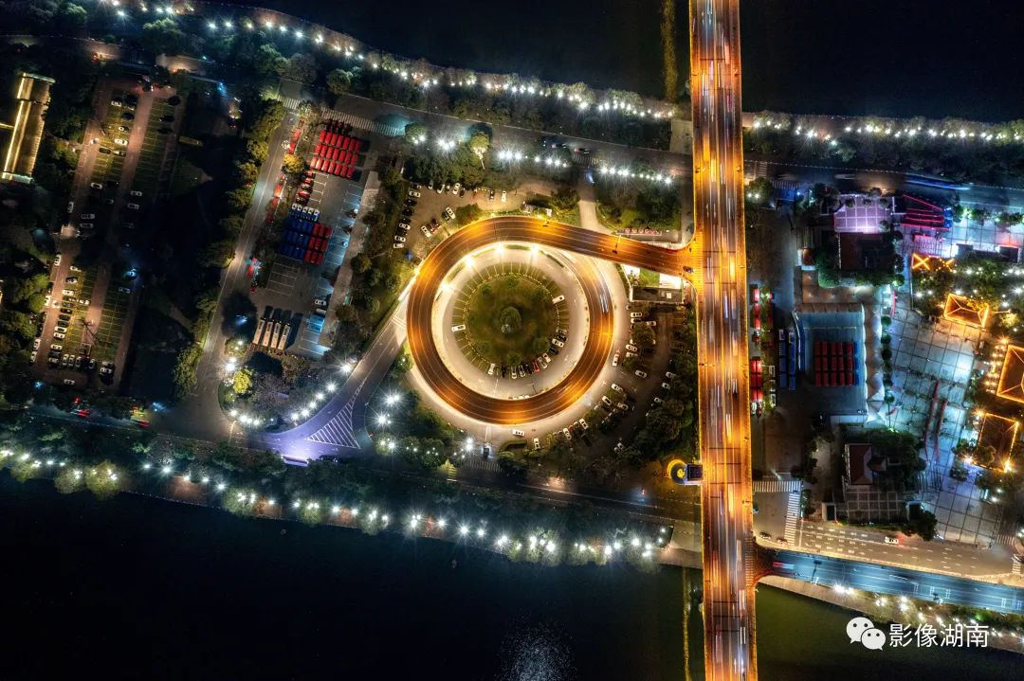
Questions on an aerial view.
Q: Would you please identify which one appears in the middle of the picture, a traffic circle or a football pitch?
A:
traffic circle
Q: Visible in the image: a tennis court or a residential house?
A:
residential house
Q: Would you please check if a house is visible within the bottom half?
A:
Yes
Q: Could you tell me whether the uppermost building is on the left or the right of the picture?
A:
left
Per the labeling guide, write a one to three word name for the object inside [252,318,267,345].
vehicle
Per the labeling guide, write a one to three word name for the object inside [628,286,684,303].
building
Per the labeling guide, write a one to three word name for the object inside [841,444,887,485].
house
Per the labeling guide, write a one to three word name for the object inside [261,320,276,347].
vehicle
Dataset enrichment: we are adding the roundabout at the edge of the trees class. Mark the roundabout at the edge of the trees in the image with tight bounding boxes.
[406,225,630,441]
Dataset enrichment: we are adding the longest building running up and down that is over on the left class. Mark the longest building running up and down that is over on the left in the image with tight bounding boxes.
[1,76,62,185]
